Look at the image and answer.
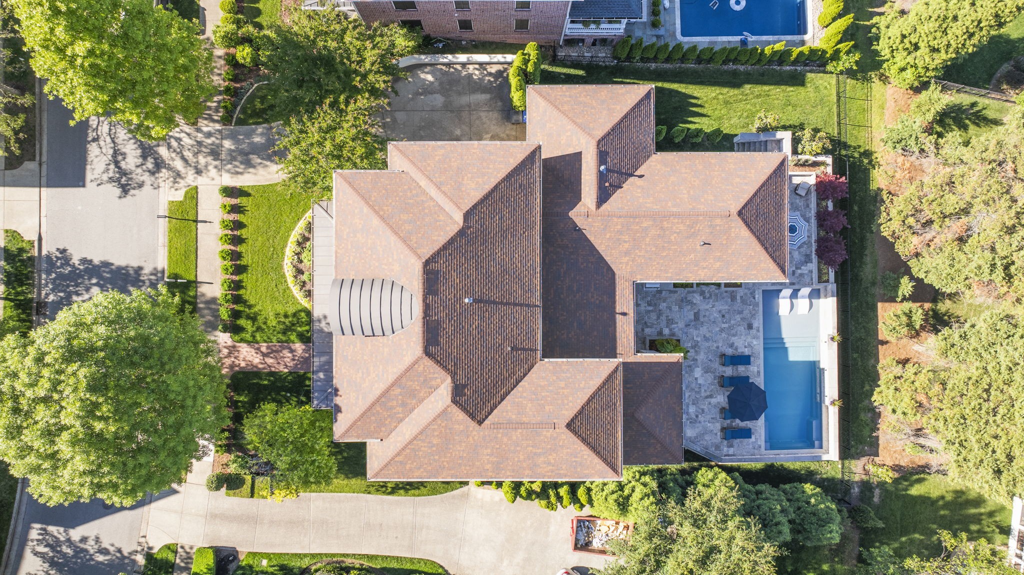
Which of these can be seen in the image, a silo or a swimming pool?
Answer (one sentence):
It is a swimming pool that can be seen here.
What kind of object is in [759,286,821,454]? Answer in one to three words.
swimming pool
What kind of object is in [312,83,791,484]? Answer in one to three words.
house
